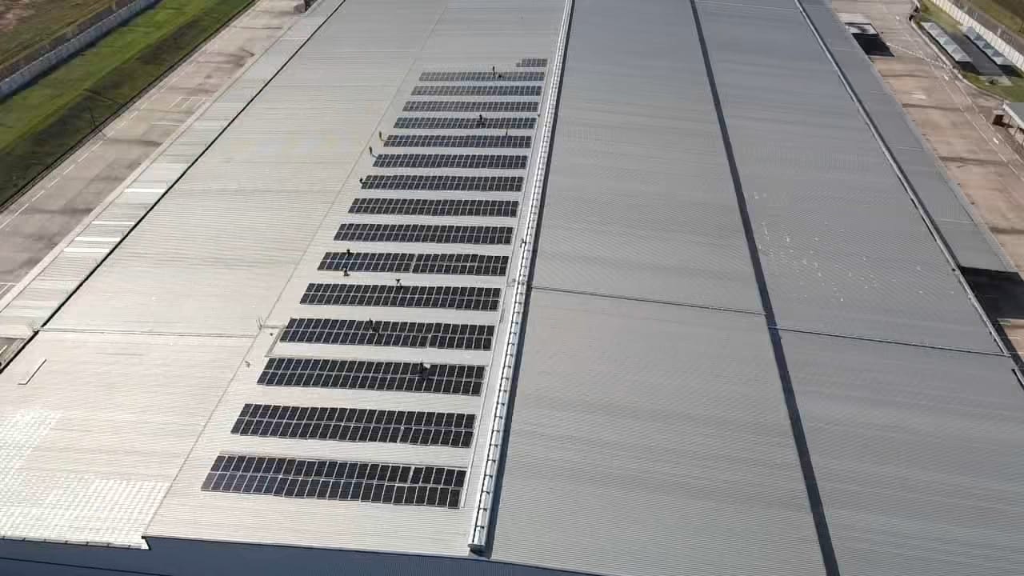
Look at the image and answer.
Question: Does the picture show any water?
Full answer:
No, there's no water in this view.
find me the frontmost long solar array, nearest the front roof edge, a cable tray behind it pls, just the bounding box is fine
[200,456,466,507]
